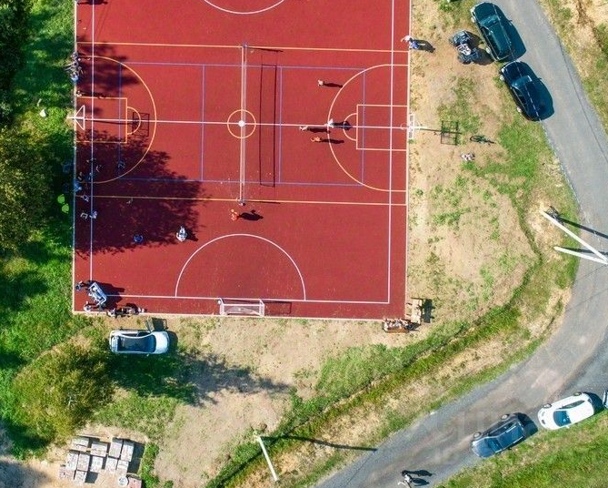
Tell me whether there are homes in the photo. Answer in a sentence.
No, the picture doesn't show any home.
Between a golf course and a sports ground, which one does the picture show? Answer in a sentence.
It's a sports ground.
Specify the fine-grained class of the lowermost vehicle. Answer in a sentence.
The lowermost vehicle can be classified as a car.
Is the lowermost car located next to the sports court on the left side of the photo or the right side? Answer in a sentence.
The lowermost car located next to the sports court appears in the left half of the scene.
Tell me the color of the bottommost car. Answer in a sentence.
From above, the bottommost car appears blue.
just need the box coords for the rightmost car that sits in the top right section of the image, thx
[502,60,547,117]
